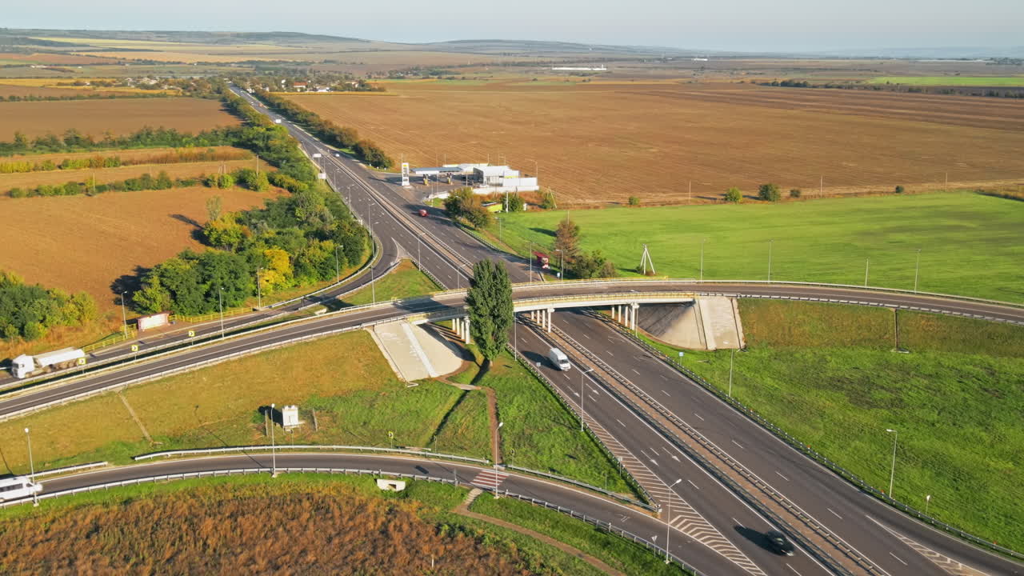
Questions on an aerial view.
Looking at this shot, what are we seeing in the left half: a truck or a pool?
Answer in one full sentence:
You can see a truck in the left half.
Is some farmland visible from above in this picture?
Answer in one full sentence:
Yes, farmland can be seen from above here.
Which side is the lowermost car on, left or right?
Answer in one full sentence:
The lowermost car is on the right side of the image.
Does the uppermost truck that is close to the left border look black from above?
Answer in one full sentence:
No, the color of the uppermost truck that is close to the left border is white.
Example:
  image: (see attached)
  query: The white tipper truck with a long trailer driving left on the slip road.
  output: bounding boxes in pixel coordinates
[8,346,83,378]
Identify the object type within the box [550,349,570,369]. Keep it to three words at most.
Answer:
vehicle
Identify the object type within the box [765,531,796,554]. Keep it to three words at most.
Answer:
car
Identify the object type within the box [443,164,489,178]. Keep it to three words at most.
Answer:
building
